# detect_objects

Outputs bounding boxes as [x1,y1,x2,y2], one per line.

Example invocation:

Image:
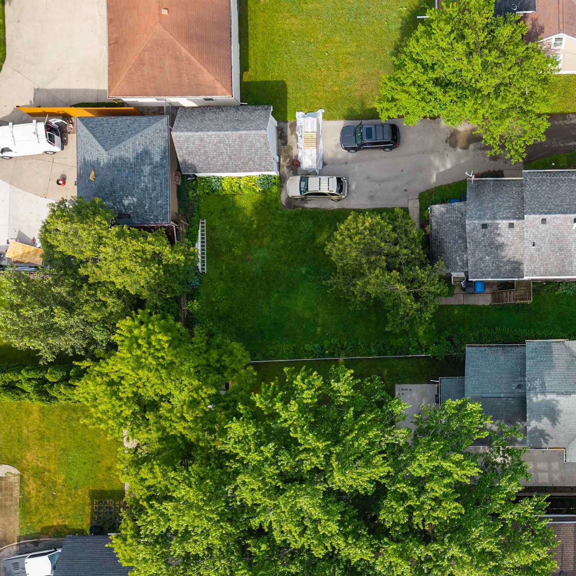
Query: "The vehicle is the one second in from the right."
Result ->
[287,174,350,203]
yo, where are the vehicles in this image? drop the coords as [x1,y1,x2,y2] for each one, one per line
[0,118,74,160]
[340,123,401,153]
[287,174,350,203]
[3,546,62,576]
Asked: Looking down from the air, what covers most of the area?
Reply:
trees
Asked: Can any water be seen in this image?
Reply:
No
